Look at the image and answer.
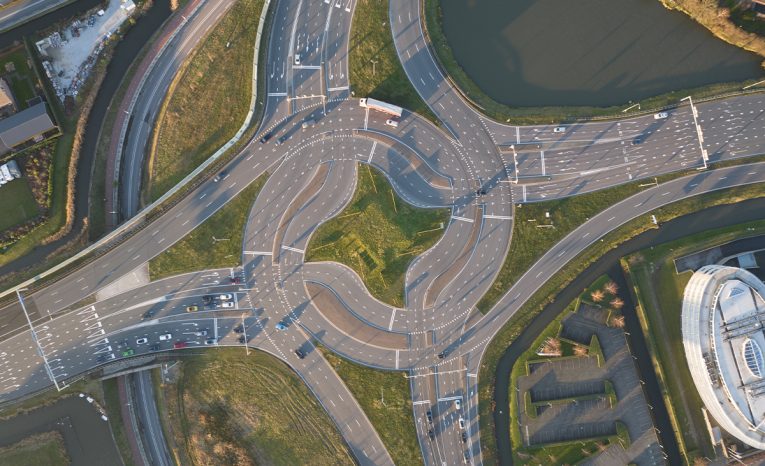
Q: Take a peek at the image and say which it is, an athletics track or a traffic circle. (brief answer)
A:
traffic circle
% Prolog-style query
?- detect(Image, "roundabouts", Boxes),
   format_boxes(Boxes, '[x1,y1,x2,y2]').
[229,92,532,380]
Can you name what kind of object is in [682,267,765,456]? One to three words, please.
building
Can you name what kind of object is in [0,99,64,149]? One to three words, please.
barn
